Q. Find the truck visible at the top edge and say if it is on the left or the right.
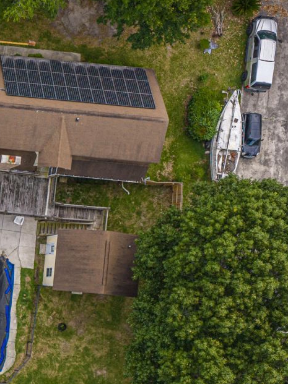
right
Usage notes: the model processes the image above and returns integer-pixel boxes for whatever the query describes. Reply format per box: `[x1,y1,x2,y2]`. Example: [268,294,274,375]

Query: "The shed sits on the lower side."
[42,227,142,298]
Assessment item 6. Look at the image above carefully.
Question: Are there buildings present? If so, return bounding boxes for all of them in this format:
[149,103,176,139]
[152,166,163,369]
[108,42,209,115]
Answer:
[42,227,142,298]
[0,55,167,201]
